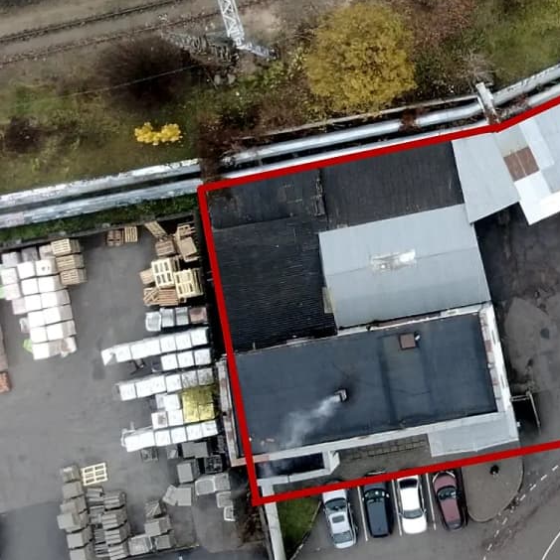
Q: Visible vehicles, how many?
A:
4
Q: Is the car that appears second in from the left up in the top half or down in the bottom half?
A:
bottom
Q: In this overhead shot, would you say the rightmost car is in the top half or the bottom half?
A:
bottom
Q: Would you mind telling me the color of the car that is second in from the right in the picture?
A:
white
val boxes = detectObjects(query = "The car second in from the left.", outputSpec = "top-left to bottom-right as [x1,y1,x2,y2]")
[358,473,393,542]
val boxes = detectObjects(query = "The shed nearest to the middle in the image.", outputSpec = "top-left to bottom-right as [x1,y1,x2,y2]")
[207,165,339,352]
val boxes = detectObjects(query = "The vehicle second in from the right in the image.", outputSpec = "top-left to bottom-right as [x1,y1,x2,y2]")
[394,468,428,538]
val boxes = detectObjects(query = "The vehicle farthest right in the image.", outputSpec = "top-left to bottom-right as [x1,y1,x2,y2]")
[430,469,467,536]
